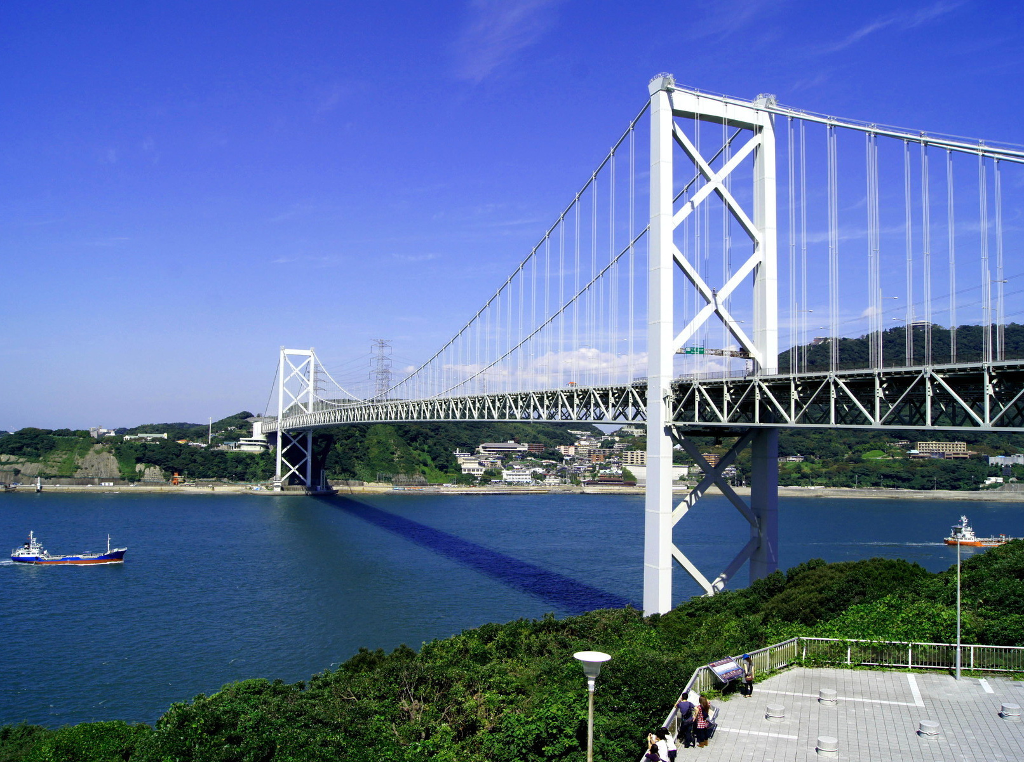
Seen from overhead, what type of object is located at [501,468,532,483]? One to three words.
building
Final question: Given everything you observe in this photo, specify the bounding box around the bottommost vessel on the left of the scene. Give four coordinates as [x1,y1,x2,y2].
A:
[11,529,125,562]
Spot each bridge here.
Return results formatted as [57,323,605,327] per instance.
[261,69,1024,613]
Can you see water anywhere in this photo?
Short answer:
Yes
